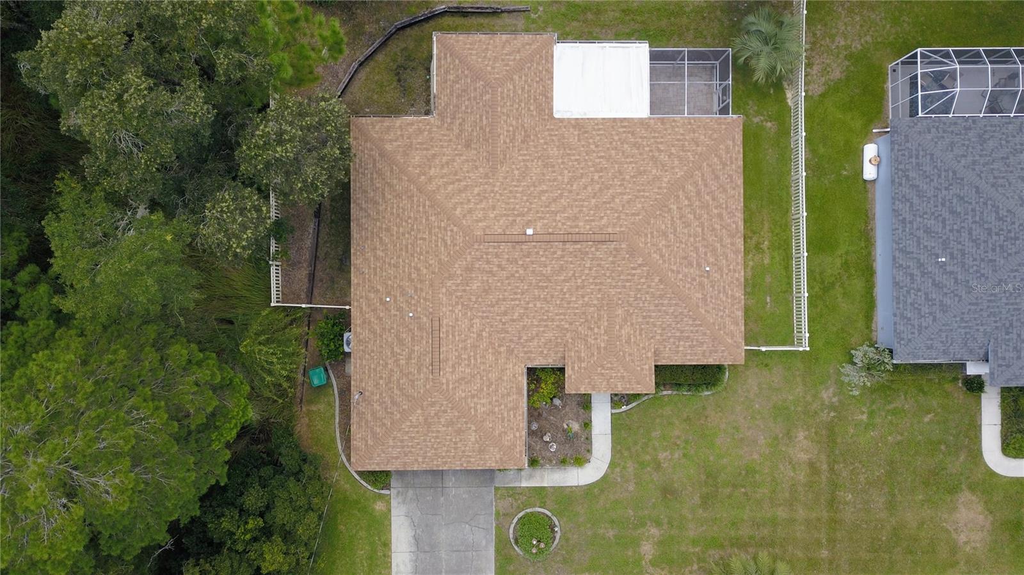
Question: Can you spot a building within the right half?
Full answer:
Yes, a building is visible within the right half.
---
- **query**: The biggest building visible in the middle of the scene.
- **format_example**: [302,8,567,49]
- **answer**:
[351,30,744,471]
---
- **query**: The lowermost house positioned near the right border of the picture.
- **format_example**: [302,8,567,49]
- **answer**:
[875,117,1024,387]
